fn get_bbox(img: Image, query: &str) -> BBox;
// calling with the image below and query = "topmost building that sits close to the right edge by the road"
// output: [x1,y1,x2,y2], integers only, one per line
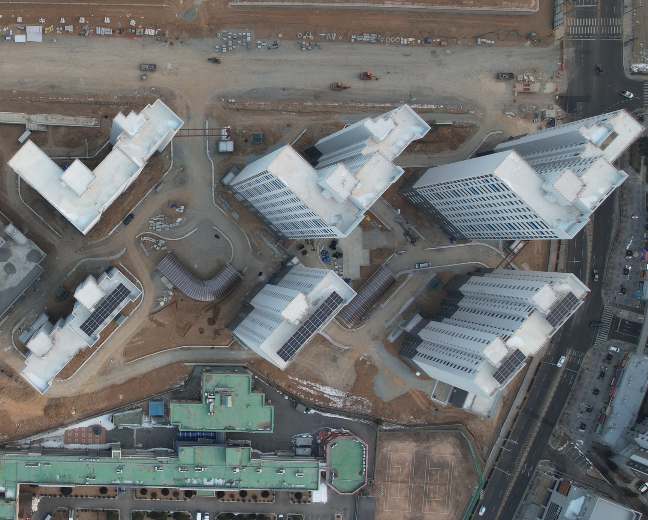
[396,108,647,243]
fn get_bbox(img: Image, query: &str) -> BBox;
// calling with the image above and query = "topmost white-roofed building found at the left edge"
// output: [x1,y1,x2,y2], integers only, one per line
[7,99,183,239]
